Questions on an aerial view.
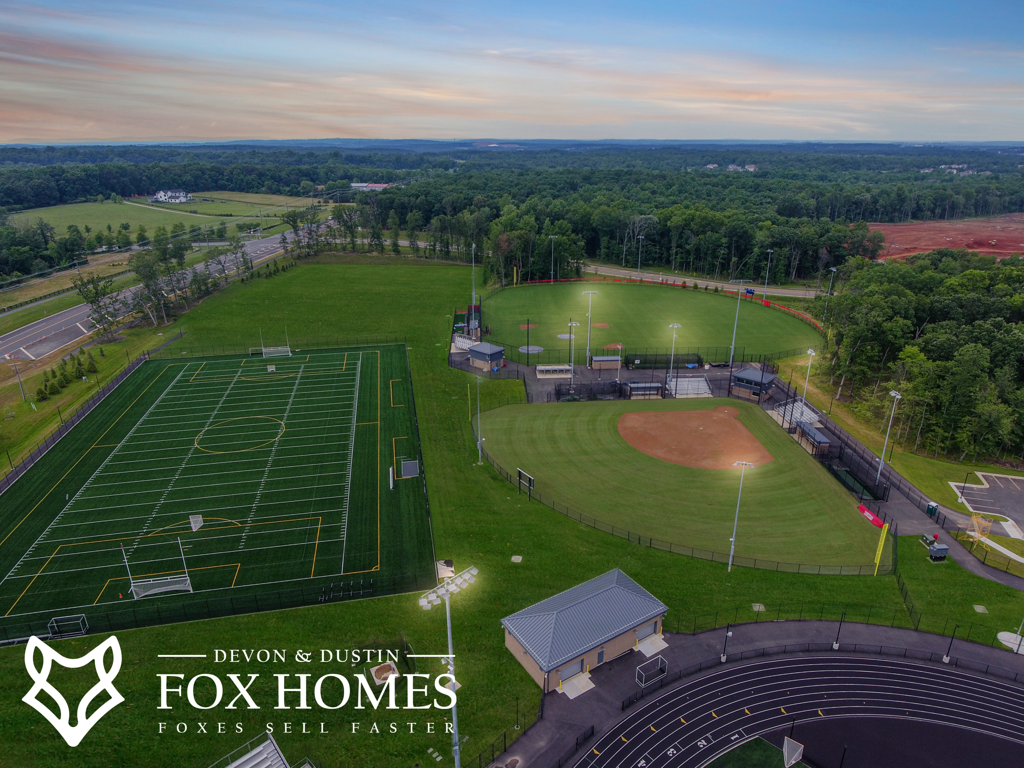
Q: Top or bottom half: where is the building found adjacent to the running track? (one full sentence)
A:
You can find the building found adjacent to the running track in the bottom half.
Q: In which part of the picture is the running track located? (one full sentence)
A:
The running track is located in the bottom right region of the scene.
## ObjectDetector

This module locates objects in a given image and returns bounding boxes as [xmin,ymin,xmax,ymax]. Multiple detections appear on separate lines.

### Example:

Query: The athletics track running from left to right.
[574,657,1024,768]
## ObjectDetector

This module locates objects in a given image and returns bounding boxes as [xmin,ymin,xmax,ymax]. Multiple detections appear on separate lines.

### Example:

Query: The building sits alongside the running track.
[499,569,671,692]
